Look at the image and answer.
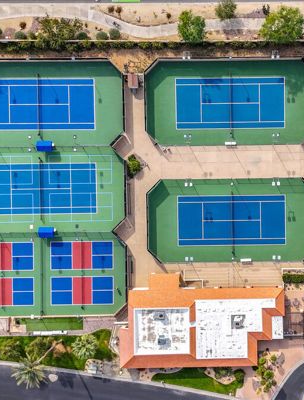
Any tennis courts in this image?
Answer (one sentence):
Yes, a tennis court appears in the view.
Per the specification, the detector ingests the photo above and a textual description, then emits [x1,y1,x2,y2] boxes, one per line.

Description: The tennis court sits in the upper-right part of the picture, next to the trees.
[147,61,304,147]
